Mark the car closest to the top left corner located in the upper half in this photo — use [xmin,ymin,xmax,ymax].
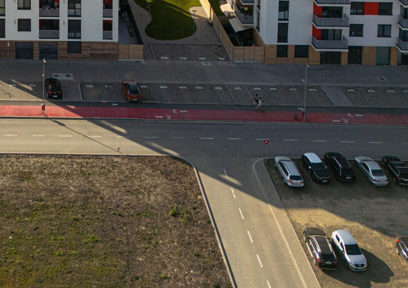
[44,74,63,98]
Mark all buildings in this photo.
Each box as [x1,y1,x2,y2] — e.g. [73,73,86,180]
[223,0,408,66]
[0,0,121,61]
